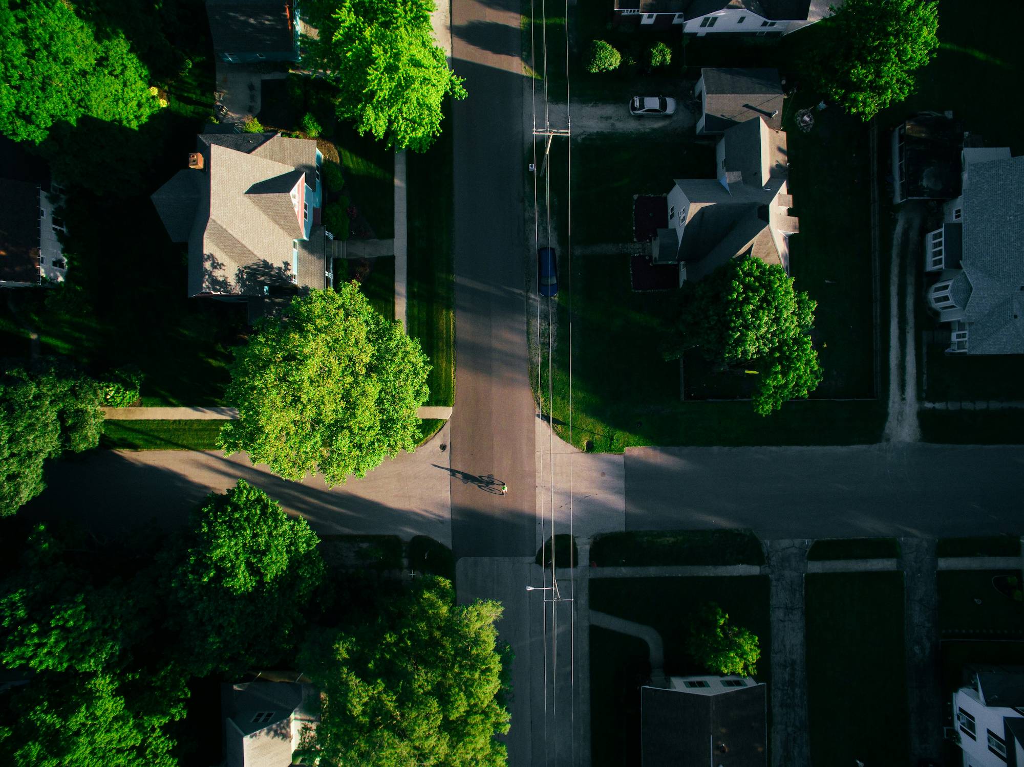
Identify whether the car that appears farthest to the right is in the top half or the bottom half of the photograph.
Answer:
top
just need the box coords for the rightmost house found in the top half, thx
[928,147,1024,354]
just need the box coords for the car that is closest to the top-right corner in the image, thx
[630,93,677,118]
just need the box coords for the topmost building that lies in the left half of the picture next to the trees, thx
[212,0,297,61]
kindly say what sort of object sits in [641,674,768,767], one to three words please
house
